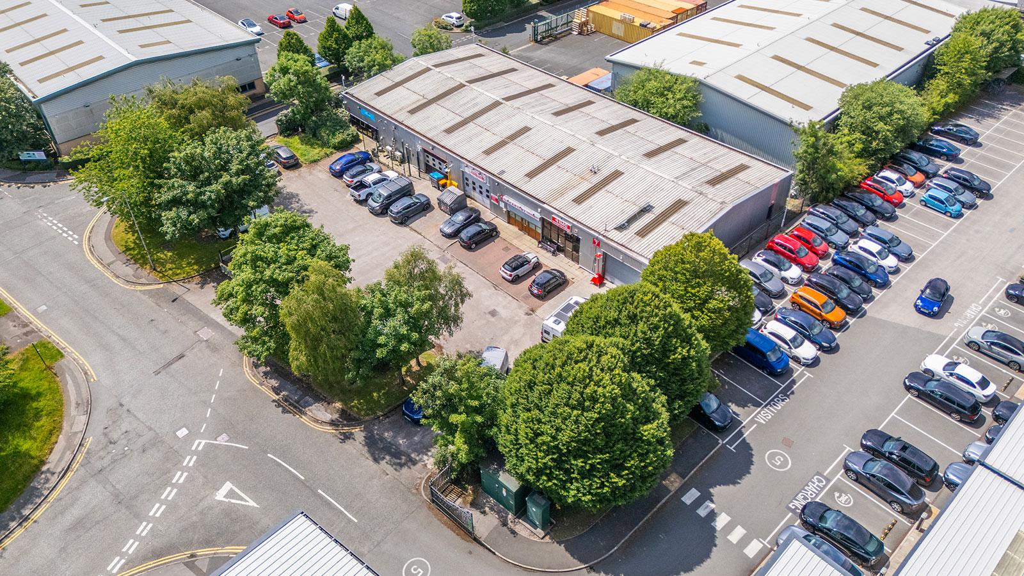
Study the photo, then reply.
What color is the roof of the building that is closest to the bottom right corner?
white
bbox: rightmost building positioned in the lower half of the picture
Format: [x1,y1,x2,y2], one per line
[898,400,1024,576]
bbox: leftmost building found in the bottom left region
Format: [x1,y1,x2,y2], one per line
[199,507,359,576]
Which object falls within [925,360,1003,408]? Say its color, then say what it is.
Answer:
white car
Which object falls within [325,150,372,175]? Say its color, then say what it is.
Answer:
blue car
